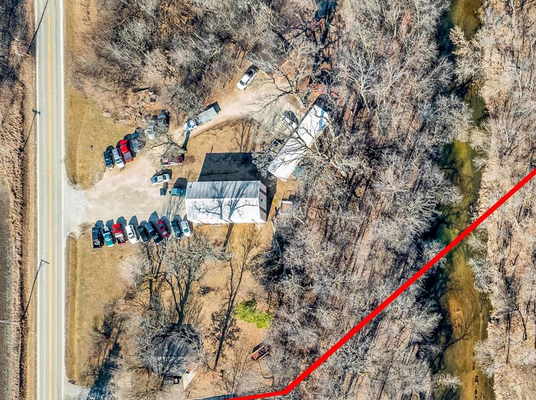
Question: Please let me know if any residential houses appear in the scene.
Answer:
Yes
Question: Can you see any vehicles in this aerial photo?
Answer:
Yes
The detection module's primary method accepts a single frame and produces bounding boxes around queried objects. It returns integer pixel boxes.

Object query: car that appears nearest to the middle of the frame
[267,137,286,152]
